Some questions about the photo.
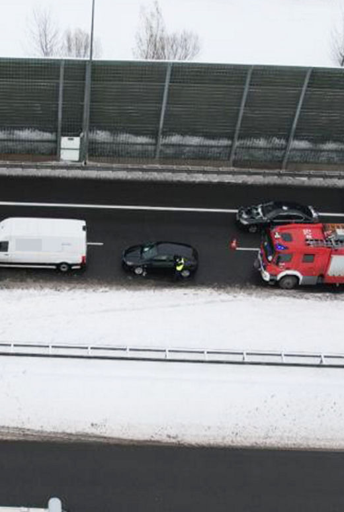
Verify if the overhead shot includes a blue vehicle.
No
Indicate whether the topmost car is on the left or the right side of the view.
right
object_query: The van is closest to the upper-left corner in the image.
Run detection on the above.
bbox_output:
[0,218,87,271]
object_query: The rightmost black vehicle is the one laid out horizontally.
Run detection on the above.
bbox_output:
[234,199,319,233]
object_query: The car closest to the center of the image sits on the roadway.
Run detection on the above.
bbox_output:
[123,240,199,279]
